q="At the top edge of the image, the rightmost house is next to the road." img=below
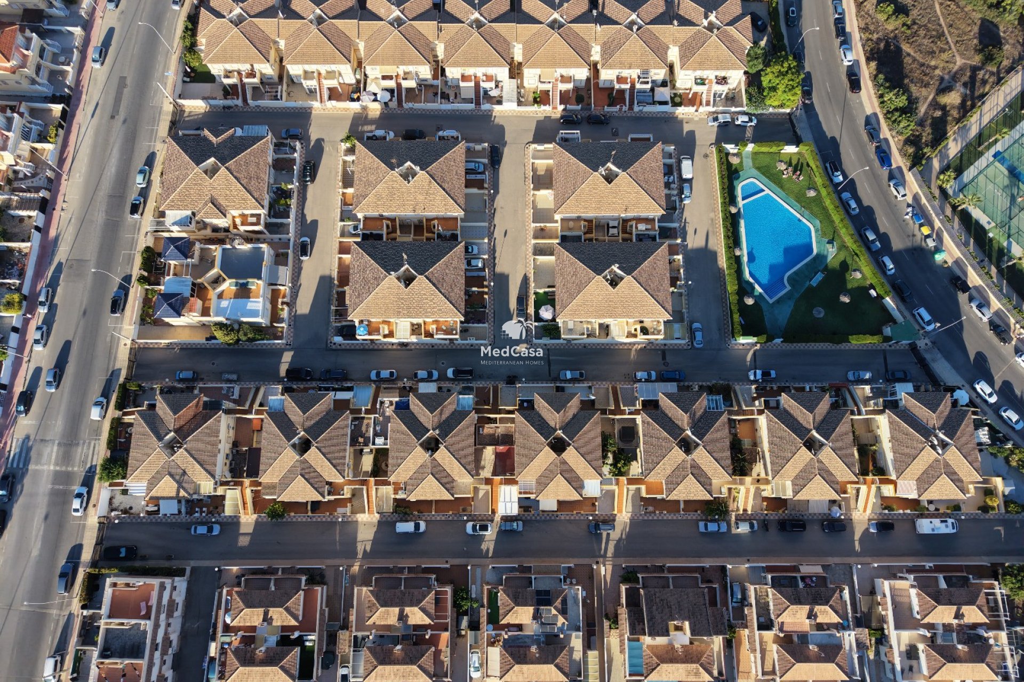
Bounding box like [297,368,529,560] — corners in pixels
[669,0,755,107]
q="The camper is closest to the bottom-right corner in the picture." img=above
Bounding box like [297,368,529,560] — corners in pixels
[910,518,957,534]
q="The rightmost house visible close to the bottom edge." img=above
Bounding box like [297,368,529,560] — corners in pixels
[881,571,1005,682]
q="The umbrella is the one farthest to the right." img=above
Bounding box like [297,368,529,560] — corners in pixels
[952,390,967,405]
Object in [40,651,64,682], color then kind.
white vehicle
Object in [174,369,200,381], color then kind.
blue vehicle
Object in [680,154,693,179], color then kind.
white vehicle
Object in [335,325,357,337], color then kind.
black vehicle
